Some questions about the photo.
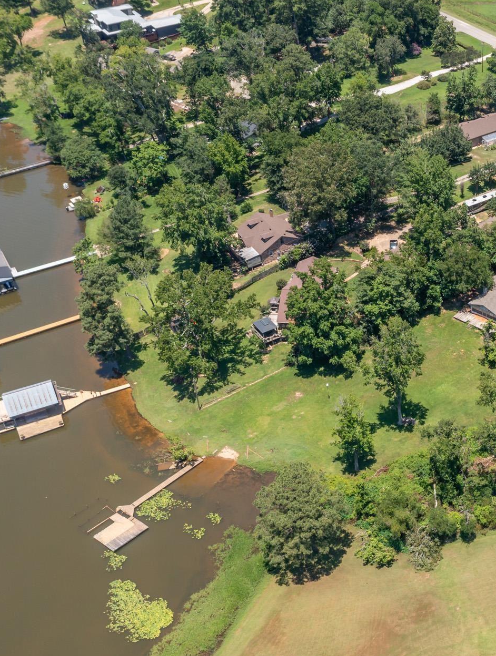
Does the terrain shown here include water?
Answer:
Yes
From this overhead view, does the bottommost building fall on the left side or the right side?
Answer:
left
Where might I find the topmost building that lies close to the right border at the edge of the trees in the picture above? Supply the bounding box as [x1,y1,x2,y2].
[439,112,496,148]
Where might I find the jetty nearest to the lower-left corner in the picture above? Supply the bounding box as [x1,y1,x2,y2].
[78,457,204,553]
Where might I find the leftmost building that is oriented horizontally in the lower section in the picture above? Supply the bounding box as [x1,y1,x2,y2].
[0,377,132,442]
